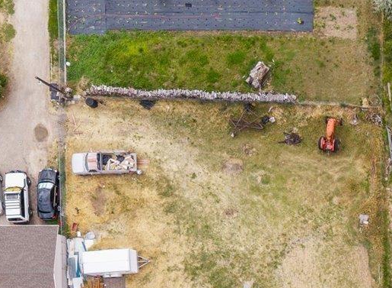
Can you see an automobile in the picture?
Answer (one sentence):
Yes, the photo shows an automobile.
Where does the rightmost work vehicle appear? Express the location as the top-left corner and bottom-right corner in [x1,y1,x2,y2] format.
[319,116,342,155]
